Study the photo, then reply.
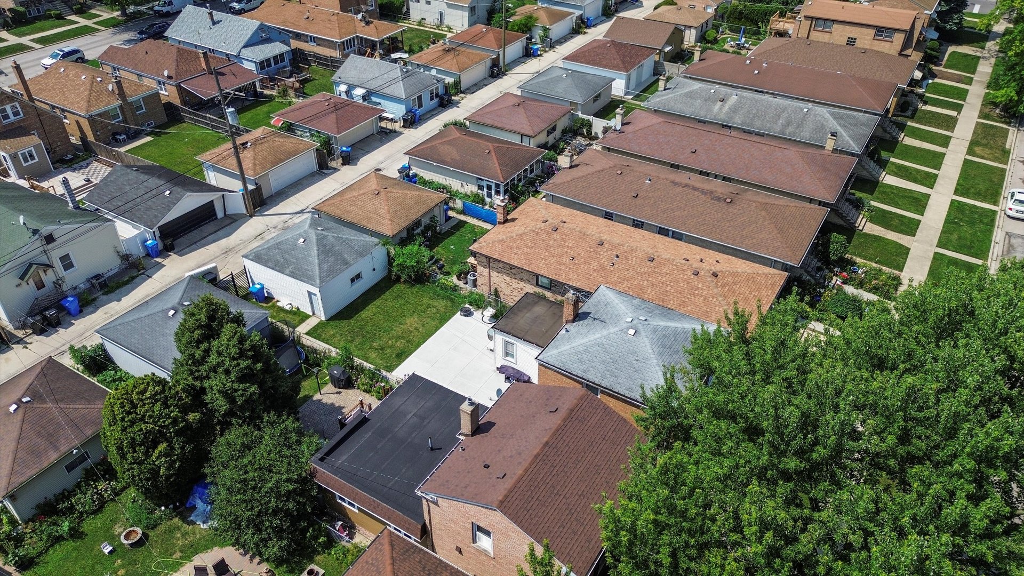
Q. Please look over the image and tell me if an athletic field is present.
No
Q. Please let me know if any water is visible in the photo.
No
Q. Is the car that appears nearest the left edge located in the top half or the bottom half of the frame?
top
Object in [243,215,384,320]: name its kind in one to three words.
building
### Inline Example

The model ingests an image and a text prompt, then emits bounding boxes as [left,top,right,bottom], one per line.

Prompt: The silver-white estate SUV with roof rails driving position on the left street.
[42,45,89,70]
